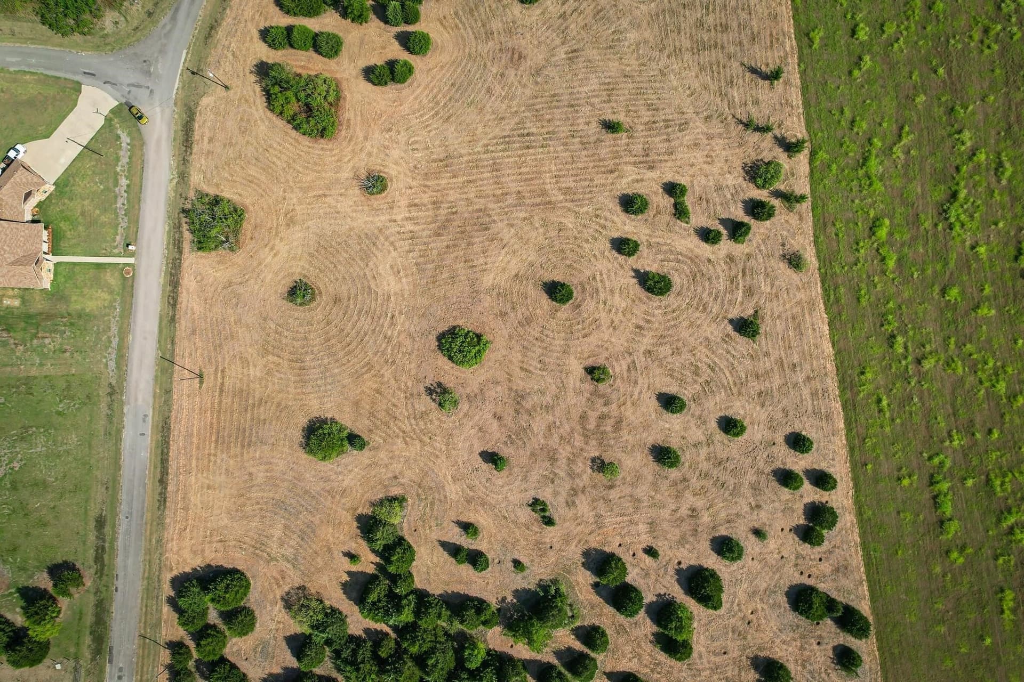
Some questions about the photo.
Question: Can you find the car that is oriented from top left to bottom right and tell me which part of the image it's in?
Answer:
top left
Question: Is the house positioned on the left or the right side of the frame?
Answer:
left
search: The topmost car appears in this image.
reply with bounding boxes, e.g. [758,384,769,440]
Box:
[127,102,150,126]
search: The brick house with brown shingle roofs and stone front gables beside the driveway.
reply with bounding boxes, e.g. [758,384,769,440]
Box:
[0,157,57,289]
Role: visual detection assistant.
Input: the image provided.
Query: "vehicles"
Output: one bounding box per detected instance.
[0,144,30,174]
[127,102,150,126]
